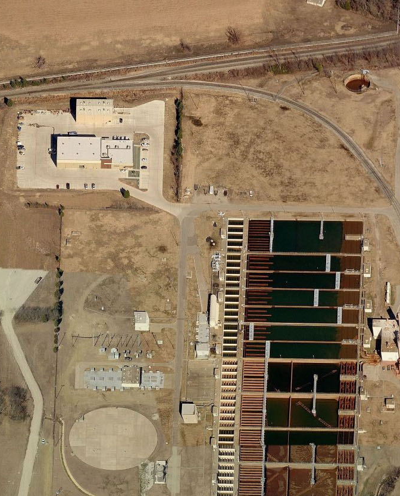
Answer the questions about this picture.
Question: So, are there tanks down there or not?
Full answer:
Yes, a tank can be made out from above.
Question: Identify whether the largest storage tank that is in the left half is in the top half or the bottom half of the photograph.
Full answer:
The bottom half of the photo is where the largest storage tank that is in the left half is.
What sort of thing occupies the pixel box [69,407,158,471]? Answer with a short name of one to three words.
storage tank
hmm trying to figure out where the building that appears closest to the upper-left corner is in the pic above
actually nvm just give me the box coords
[76,99,113,124]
